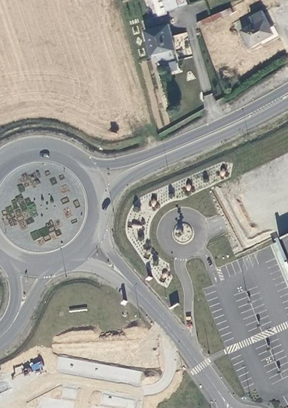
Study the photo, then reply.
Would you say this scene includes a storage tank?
No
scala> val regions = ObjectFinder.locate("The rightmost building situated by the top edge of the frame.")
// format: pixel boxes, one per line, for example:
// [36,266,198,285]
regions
[236,10,282,54]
